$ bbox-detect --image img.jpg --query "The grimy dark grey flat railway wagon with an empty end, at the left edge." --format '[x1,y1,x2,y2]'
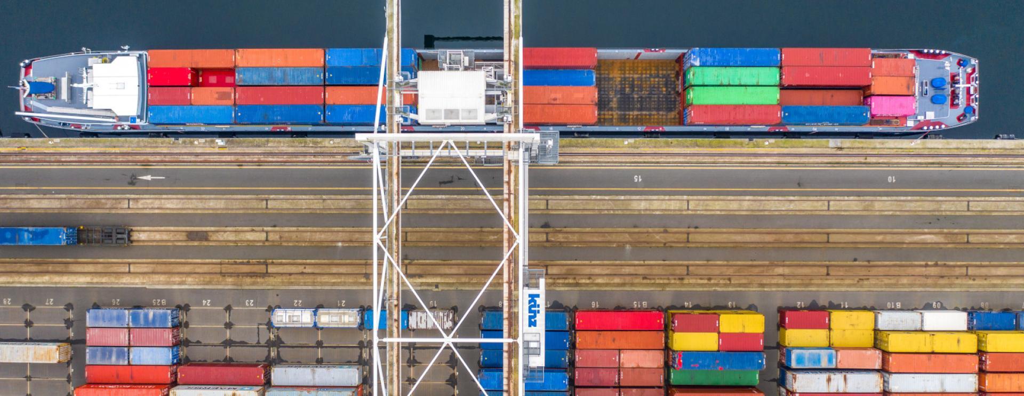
[73,228,134,246]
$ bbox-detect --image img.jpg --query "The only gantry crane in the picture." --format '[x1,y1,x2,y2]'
[356,0,560,396]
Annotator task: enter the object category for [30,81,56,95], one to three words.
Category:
boat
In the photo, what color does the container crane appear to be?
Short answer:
white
